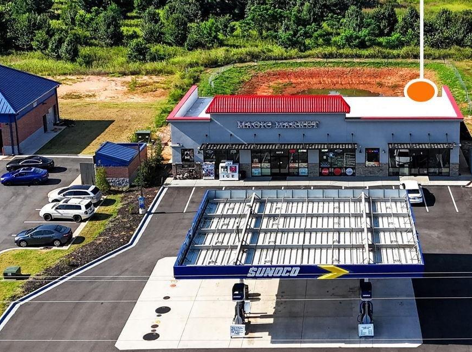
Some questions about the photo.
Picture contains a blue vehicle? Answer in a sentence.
Yes, you can see a blue vehicle in this photo.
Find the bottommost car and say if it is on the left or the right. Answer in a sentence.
The bottommost car is on the left side of the image.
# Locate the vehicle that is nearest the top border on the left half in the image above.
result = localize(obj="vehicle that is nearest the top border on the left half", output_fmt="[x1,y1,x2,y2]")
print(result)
[3,151,56,169]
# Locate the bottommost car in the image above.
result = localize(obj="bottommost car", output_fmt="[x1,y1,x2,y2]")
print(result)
[11,221,76,246]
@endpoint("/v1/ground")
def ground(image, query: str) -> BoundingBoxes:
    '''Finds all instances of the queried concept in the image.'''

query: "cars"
[36,195,96,221]
[11,221,76,246]
[0,165,49,184]
[49,181,103,202]
[400,181,423,204]
[3,151,56,169]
